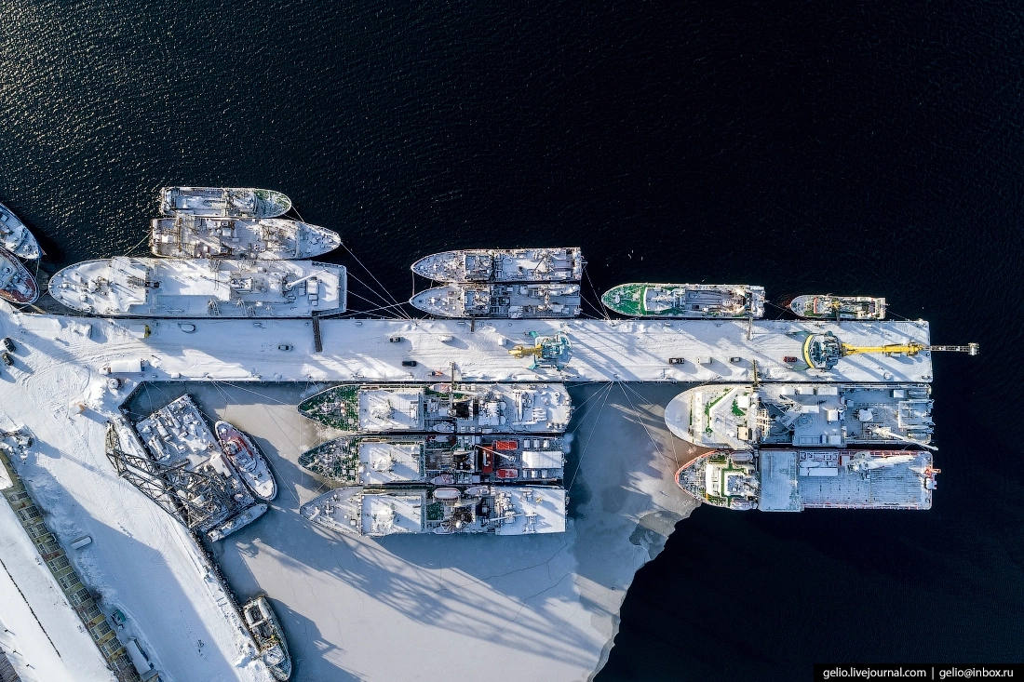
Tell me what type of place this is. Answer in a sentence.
What you see here is a port.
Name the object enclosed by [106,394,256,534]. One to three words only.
crane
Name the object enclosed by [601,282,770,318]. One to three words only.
boat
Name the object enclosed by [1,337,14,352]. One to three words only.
vehicle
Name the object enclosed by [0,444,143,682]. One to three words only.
warehouse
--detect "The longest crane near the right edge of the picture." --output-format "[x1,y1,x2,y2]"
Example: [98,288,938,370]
[788,330,978,373]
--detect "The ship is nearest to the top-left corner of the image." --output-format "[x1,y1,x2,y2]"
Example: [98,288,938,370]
[0,197,51,264]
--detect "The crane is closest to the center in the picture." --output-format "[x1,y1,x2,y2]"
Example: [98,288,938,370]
[507,331,572,369]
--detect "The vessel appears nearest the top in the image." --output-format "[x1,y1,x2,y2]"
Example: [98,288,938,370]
[160,186,292,220]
